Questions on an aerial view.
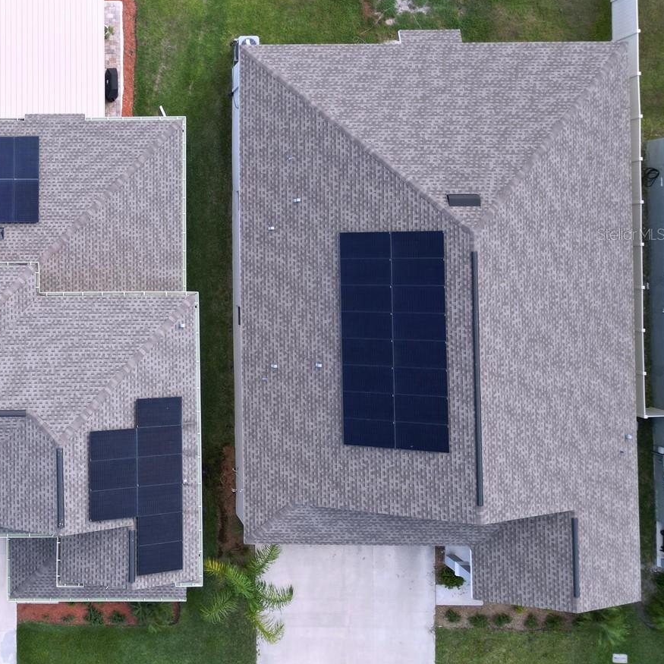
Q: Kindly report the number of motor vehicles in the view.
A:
0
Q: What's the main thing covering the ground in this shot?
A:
buildings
